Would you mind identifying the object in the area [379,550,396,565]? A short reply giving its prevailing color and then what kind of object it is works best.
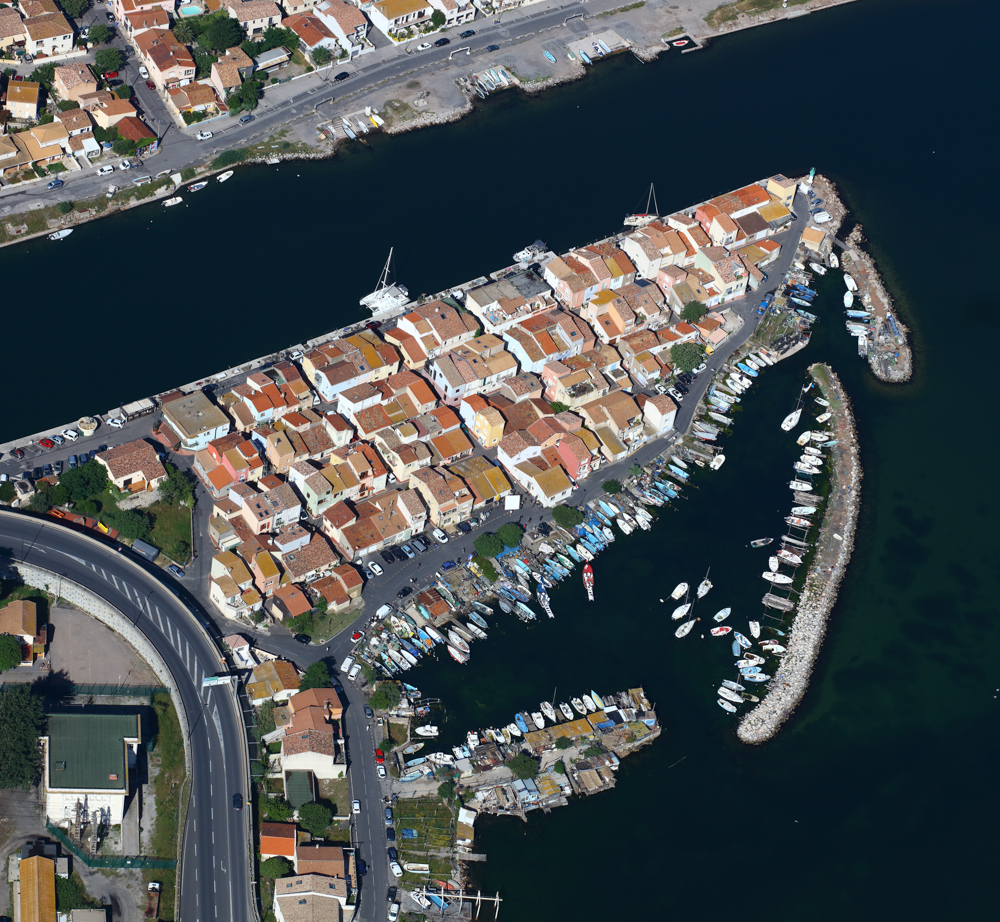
black car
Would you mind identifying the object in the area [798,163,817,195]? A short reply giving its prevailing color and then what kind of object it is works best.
white lighthouse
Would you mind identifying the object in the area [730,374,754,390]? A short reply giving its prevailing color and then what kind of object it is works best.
white boat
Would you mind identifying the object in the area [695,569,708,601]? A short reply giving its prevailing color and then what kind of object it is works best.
white boat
